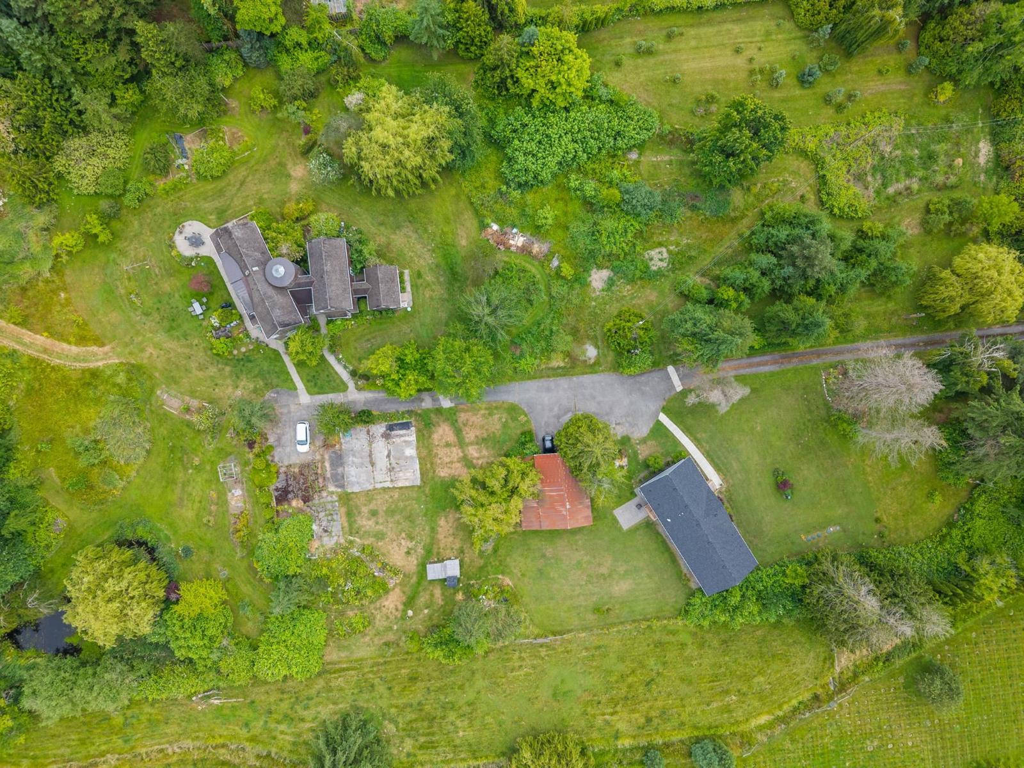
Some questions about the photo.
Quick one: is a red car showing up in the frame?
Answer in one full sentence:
No, there isn't any red car down there.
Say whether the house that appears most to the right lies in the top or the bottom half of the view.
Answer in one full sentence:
You can find the house that appears most to the right in the bottom half.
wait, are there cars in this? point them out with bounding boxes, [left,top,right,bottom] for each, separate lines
[541,431,557,454]
[293,422,309,453]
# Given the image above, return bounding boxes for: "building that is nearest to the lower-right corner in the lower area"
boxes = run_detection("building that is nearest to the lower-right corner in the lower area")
[634,455,758,596]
